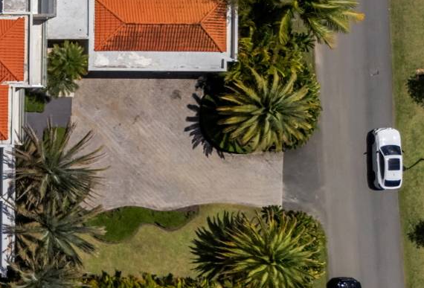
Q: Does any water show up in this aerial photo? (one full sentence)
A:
No, there is no water in the image.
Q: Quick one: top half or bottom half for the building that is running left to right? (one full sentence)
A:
It is in the top half that the building that is running left to right appears.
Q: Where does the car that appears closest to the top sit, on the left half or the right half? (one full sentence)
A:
You can find the car that appears closest to the top on the right side of the picture.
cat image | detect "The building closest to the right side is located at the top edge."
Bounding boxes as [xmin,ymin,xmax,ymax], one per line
[77,0,238,73]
